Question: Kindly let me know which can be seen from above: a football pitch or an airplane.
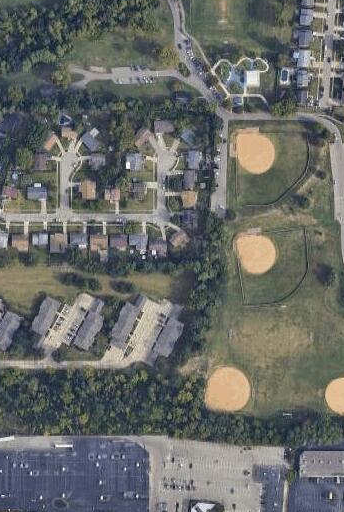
football pitch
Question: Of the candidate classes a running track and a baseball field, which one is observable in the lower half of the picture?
baseball field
